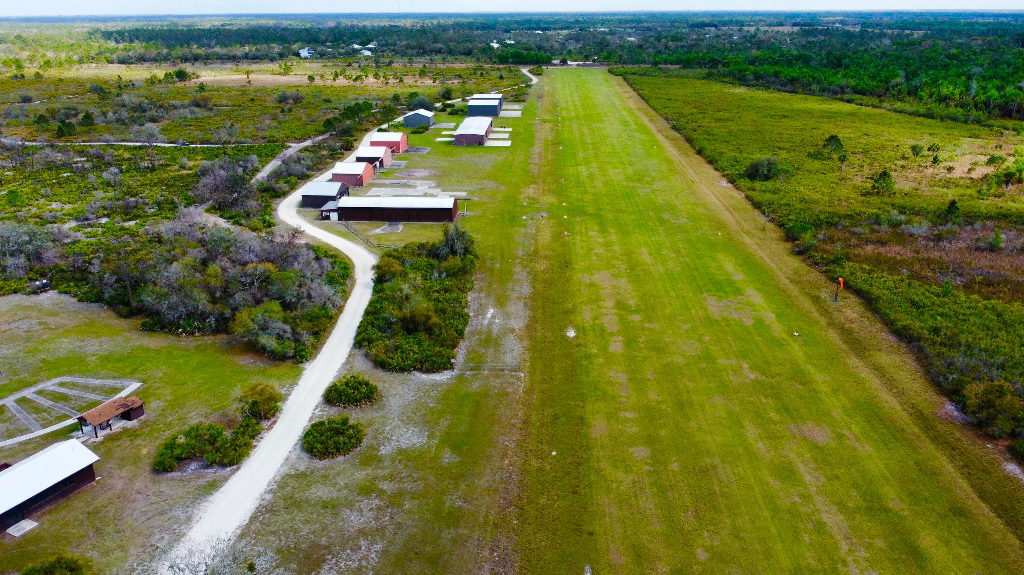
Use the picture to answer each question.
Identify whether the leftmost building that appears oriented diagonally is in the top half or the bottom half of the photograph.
bottom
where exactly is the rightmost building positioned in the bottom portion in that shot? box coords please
[77,394,145,440]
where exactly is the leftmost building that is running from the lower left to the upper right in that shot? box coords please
[0,446,101,534]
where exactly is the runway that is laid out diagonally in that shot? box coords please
[554,68,976,575]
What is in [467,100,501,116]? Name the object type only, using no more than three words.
hangar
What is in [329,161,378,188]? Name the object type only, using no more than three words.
hangar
